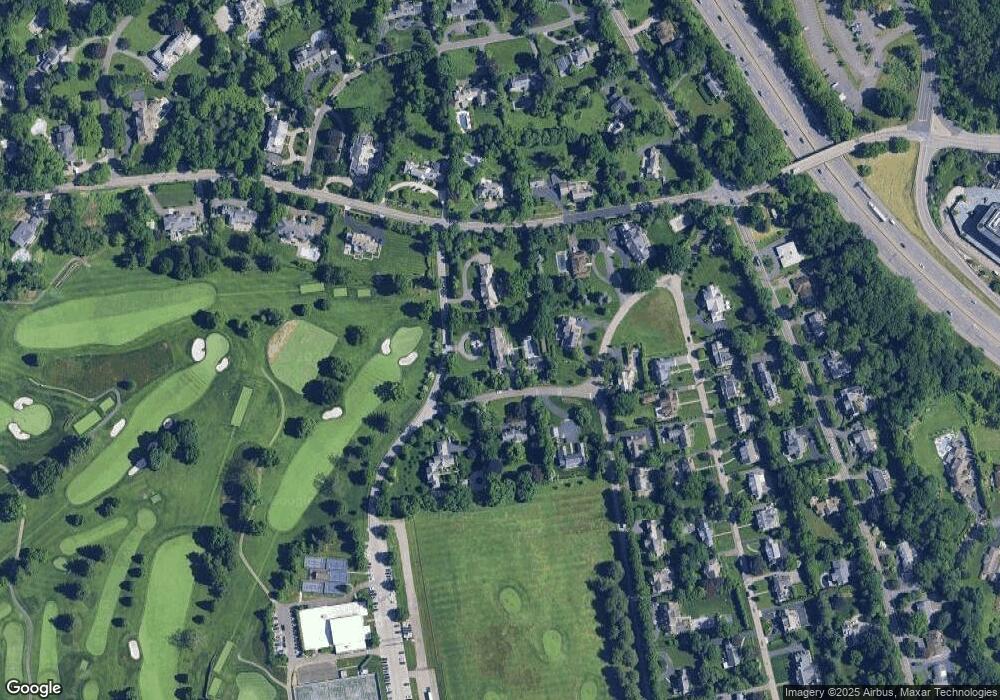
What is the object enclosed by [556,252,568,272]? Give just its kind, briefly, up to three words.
swimming pool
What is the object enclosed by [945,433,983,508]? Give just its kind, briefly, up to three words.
house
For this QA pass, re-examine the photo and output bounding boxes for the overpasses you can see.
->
[780,138,856,181]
